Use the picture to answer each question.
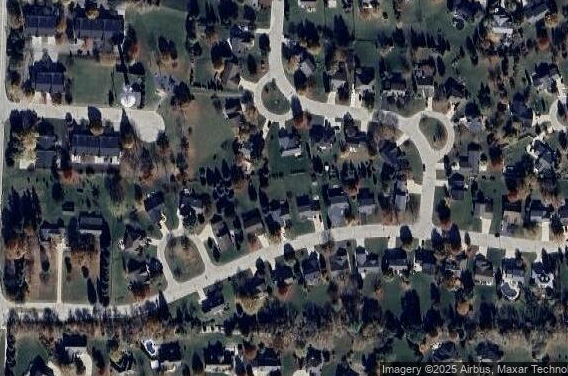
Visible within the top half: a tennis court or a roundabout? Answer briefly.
roundabout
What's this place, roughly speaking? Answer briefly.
residential area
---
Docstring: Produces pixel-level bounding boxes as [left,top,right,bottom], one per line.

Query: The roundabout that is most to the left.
[156,230,212,291]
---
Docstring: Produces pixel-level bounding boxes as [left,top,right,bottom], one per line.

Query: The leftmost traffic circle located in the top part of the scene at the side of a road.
[252,71,300,122]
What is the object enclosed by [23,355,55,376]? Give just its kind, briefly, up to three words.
house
